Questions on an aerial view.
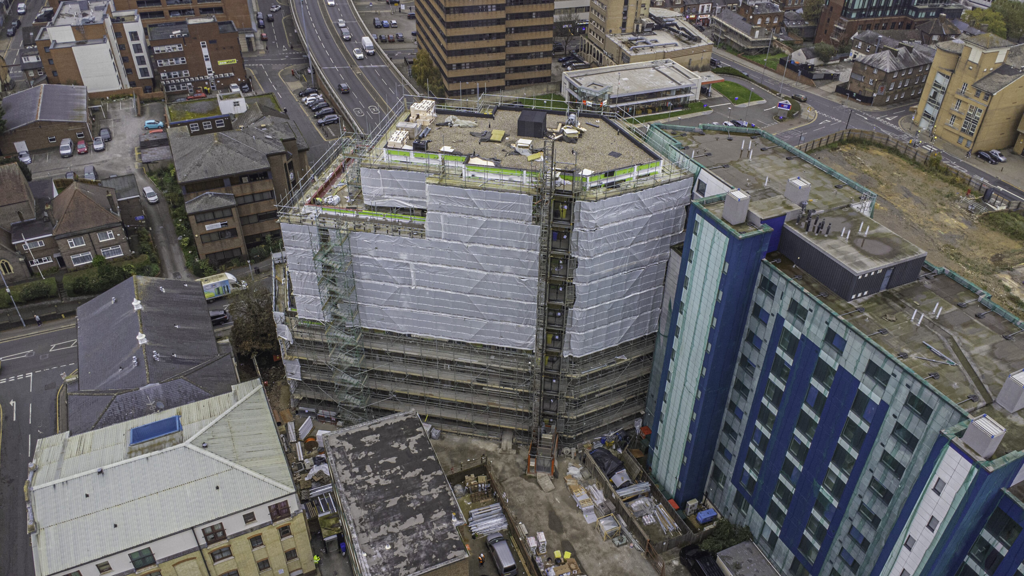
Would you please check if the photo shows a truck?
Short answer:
Yes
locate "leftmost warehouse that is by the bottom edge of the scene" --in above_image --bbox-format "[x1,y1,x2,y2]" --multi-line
[15,381,308,576]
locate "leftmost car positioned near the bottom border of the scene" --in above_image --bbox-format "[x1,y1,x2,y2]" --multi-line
[483,529,524,576]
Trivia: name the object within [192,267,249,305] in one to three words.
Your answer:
truck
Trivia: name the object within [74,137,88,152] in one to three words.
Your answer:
car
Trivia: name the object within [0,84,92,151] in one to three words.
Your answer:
shed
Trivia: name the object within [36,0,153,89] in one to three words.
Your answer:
building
